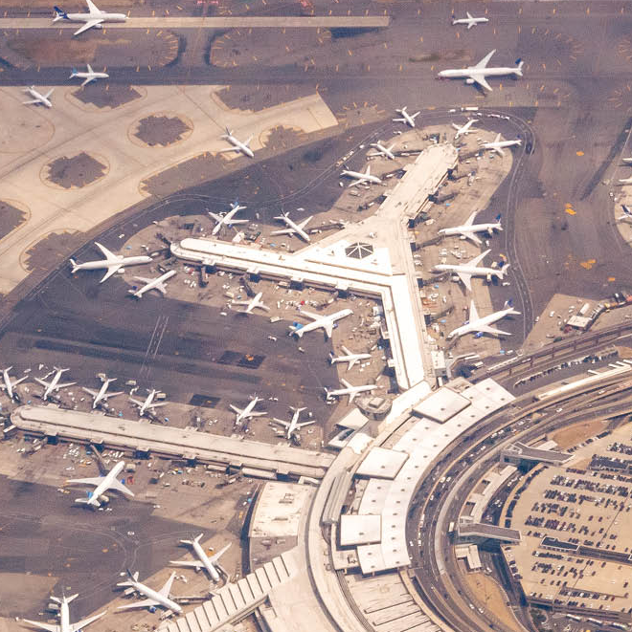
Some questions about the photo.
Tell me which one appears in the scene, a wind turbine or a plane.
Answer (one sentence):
It is a plane that can be seen here.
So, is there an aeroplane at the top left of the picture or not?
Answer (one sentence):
Yes, there is an aeroplane at the top left of the picture.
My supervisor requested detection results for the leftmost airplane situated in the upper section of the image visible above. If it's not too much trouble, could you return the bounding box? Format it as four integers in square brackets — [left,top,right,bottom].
[25,81,52,106]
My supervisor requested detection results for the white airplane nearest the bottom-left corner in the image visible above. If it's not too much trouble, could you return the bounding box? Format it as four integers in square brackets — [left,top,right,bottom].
[20,590,108,632]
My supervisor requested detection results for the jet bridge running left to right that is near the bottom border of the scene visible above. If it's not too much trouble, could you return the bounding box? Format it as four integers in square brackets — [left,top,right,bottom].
[169,593,212,605]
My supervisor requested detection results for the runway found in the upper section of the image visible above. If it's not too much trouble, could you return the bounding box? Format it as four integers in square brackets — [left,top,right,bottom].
[0,15,390,29]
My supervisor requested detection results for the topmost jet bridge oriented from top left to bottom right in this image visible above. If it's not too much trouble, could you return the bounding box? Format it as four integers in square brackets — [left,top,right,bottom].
[153,230,172,245]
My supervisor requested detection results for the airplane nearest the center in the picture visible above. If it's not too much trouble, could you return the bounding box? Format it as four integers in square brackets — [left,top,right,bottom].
[291,310,348,338]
